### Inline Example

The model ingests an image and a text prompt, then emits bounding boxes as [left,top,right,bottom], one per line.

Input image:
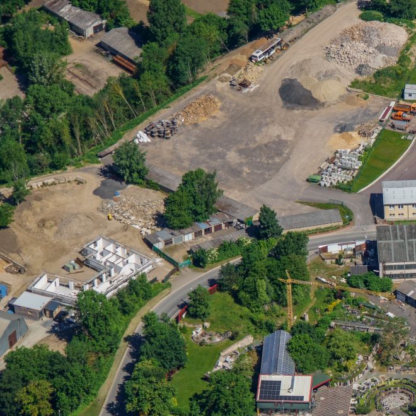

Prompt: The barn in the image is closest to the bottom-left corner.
[0,310,31,357]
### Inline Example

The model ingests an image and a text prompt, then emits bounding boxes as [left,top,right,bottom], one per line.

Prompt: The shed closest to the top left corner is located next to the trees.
[41,0,105,38]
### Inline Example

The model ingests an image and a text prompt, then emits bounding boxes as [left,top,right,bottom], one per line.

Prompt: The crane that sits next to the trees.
[273,268,394,330]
